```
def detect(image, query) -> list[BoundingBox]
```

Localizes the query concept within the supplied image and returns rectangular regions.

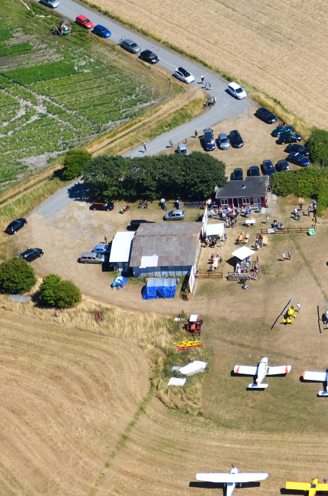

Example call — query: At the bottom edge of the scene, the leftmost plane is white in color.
[194,466,267,496]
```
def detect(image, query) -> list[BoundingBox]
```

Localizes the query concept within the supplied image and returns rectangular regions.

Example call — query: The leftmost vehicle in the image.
[5,220,29,234]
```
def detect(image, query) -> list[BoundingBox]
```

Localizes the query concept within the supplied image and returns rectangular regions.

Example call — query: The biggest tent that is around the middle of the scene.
[141,277,177,298]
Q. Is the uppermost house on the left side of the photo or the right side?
right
